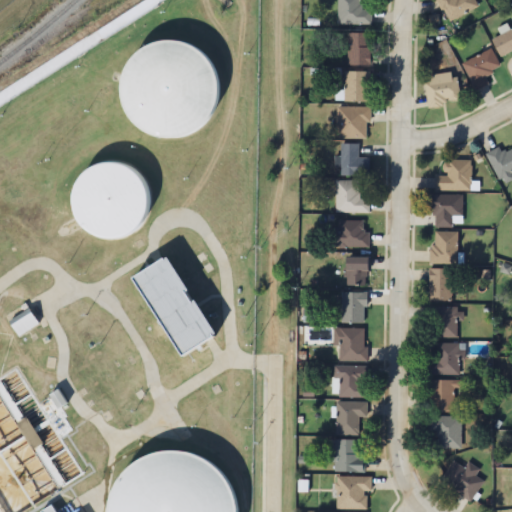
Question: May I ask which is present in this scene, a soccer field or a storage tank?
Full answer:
Of the two, only a storage tank appears.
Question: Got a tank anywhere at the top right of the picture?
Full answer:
No, there's no tank to be seen at the top right of the picture.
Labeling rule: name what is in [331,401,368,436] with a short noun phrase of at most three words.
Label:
house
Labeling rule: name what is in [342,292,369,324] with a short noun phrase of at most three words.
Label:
house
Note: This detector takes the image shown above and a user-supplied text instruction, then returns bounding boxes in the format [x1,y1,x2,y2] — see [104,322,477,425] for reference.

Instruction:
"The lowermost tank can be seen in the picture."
[106,447,240,512]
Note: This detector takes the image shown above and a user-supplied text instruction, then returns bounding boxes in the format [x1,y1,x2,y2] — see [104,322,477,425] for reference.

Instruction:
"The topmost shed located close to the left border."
[10,308,41,337]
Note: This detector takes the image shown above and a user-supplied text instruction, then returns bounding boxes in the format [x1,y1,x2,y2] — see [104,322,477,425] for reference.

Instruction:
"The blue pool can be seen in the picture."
[468,341,491,358]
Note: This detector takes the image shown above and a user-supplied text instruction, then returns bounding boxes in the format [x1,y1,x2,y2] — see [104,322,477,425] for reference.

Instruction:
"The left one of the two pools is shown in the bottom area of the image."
[304,326,334,346]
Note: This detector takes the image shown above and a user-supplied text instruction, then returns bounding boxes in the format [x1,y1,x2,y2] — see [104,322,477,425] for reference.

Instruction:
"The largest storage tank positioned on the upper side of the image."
[120,38,221,138]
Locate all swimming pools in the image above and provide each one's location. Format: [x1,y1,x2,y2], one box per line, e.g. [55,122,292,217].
[468,341,491,358]
[304,326,334,346]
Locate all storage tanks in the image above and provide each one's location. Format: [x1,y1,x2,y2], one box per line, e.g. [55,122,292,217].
[106,447,240,512]
[120,38,221,138]
[71,160,152,240]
